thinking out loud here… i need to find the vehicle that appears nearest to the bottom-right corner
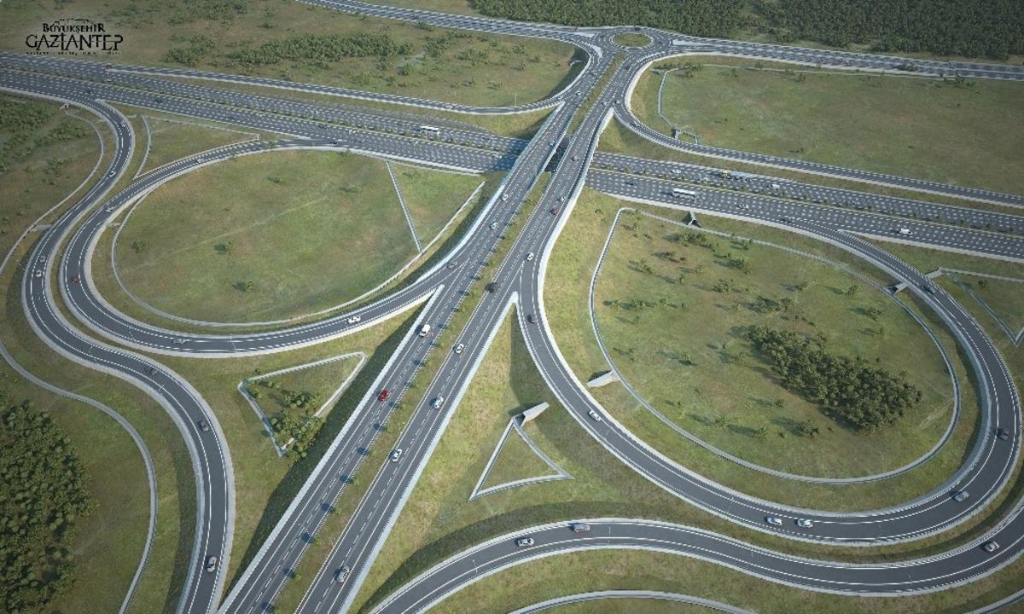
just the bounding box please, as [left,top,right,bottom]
[982,540,999,552]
